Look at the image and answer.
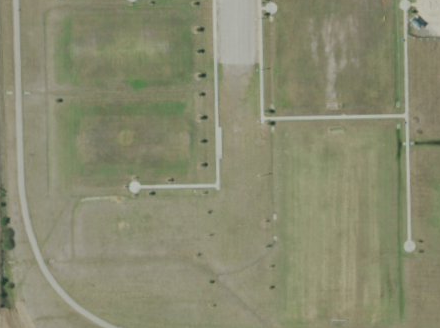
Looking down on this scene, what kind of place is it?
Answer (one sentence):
It's a sports ground.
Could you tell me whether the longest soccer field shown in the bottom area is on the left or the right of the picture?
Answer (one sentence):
The longest soccer field shown in the bottom area sits on the right side.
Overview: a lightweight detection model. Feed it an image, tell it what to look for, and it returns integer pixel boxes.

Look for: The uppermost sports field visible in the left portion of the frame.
[55,10,195,86]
